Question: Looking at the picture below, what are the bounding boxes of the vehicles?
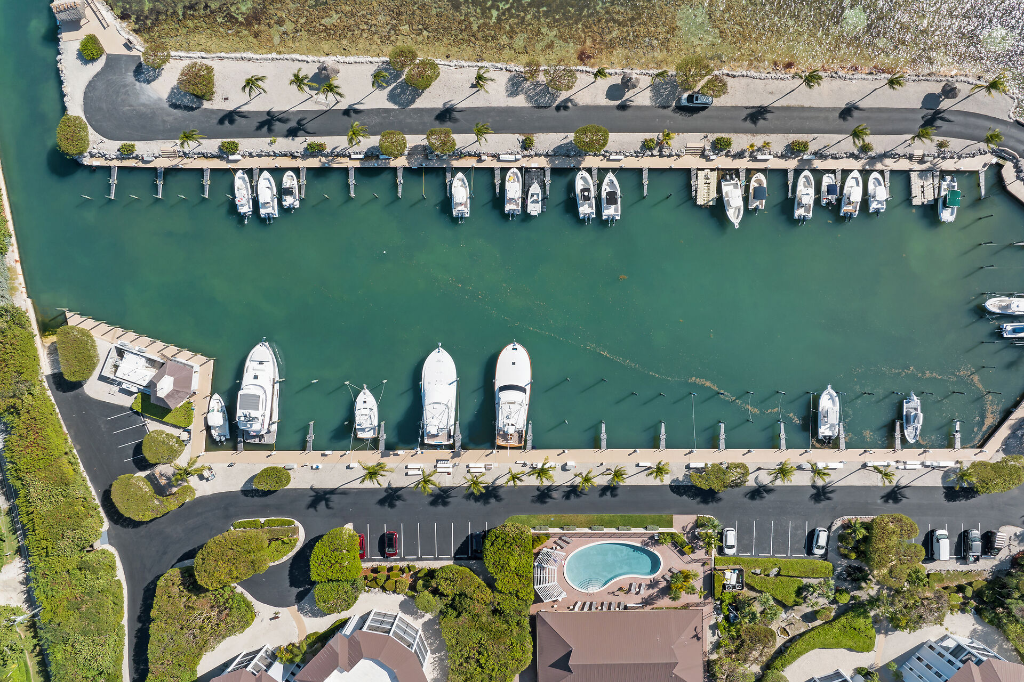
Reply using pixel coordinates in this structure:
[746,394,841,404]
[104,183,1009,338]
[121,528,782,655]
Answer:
[384,529,398,558]
[202,466,219,479]
[681,93,711,108]
[930,528,950,563]
[180,427,193,442]
[962,528,981,564]
[356,531,368,558]
[811,527,827,555]
[471,530,485,558]
[985,529,1006,557]
[722,526,736,554]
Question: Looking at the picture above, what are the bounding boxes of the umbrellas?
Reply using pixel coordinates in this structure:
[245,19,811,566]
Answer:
[619,71,640,92]
[938,81,957,101]
[317,59,338,80]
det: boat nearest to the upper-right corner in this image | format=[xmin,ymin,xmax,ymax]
[938,177,960,221]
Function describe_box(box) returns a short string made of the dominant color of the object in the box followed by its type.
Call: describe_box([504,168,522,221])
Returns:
white boat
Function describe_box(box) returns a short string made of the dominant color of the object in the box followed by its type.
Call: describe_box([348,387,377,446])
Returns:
white boat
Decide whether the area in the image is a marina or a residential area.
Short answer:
marina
